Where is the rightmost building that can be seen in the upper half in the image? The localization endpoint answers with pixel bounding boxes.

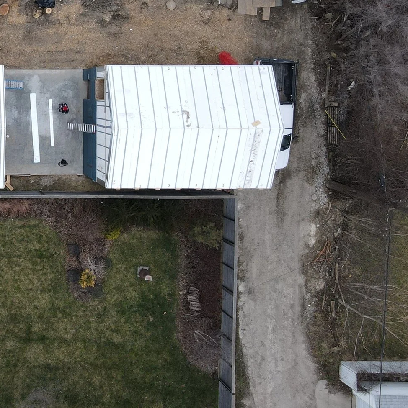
[83,65,281,190]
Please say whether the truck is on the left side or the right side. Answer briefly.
right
